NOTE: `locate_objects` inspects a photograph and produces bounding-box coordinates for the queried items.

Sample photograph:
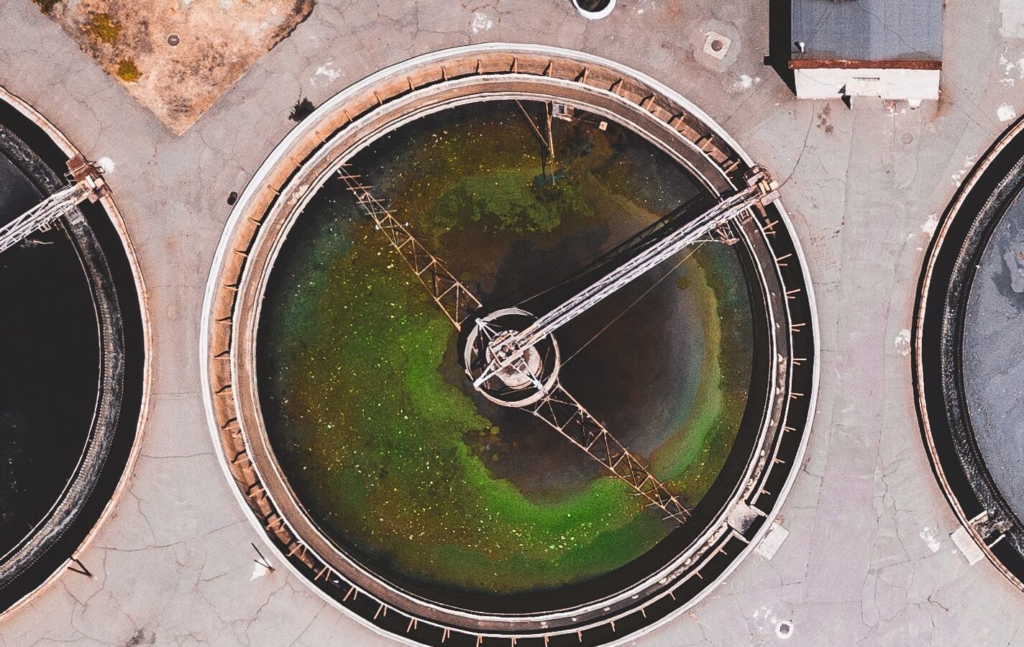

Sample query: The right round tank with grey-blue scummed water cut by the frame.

[916,121,1024,588]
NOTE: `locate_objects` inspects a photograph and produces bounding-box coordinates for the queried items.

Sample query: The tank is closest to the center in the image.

[201,42,820,647]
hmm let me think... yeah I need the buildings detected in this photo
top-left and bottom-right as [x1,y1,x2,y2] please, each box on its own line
[788,0,943,114]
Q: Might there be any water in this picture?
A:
Yes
